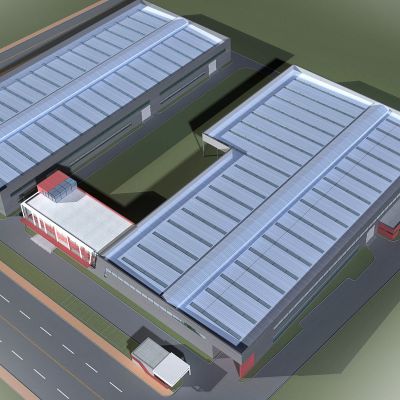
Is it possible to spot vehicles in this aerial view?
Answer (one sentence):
No, I can see no vehicle in this picture.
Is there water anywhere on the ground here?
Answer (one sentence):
No, there's no water in this view.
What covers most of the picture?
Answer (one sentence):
The bulk of the photo consists of buildings.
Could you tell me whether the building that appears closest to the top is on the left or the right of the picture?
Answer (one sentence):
You can find the building that appears closest to the top on the left side of the picture.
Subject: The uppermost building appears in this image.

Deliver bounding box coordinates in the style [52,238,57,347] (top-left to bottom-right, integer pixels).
[0,0,231,216]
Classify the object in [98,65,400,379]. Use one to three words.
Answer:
building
